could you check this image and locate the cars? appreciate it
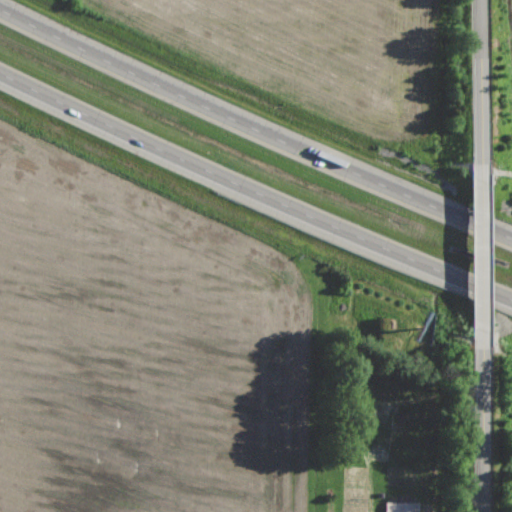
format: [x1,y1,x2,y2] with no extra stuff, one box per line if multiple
[70,110,81,118]
[314,160,326,168]
[132,140,143,148]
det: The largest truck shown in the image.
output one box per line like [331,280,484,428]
[308,146,350,168]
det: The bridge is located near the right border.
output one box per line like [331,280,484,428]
[472,156,496,360]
